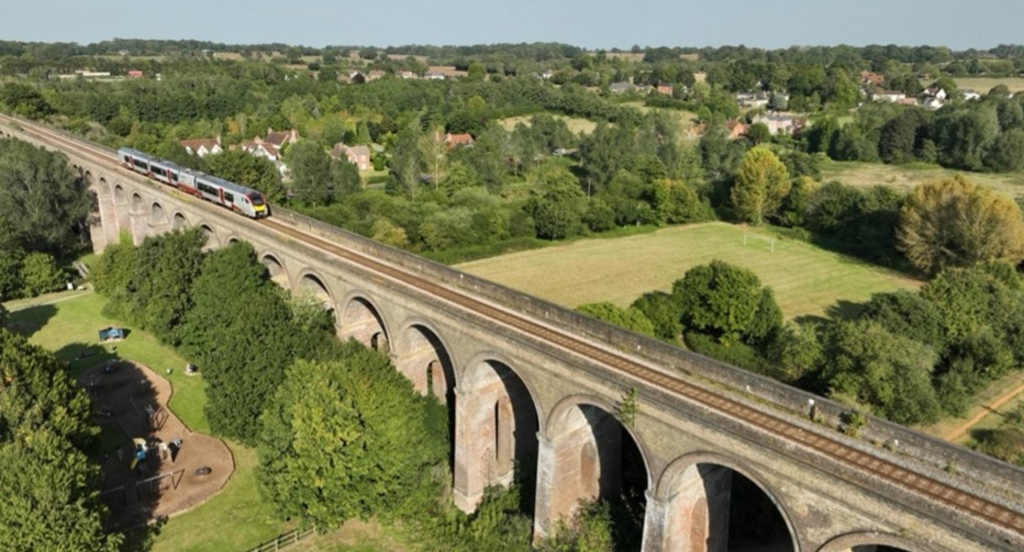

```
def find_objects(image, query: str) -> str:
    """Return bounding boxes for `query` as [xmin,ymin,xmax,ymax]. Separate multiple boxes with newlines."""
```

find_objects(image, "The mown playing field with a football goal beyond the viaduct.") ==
[451,221,929,355]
